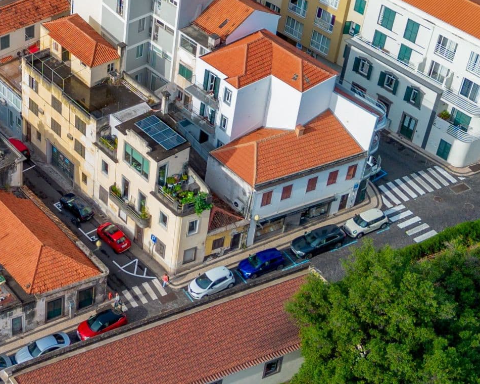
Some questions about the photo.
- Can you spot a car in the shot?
Yes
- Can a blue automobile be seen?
Yes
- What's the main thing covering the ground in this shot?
buildings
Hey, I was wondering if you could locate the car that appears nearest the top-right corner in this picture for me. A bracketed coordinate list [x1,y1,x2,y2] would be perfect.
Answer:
[360,152,388,186]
